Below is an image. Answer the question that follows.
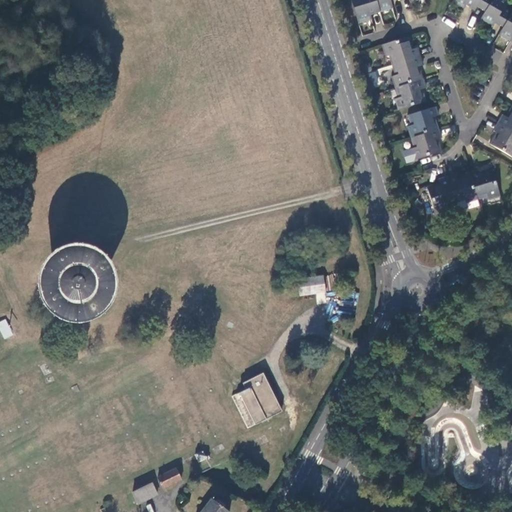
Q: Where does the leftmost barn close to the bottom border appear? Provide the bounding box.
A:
[131,480,158,506]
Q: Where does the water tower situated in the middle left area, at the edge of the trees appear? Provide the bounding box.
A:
[38,243,119,324]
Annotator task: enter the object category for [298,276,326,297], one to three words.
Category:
house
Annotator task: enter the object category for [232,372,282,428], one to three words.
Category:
building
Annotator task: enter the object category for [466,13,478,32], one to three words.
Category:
vehicle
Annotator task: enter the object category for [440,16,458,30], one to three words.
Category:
vehicle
